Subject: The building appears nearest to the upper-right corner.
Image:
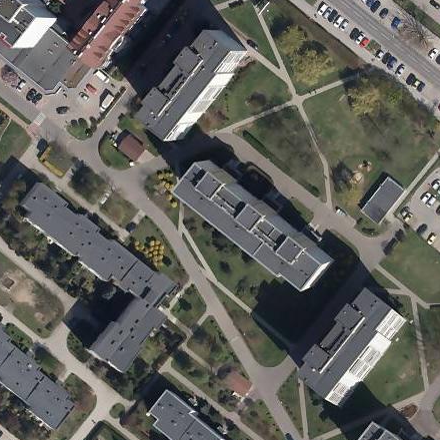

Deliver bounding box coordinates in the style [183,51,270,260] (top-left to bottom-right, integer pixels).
[360,178,404,223]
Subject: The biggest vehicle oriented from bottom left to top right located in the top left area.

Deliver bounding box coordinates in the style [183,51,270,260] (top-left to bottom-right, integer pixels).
[99,90,116,110]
